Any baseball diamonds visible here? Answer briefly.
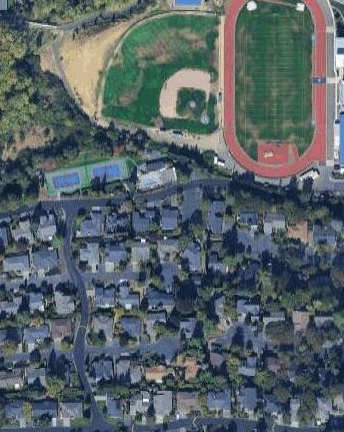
Yes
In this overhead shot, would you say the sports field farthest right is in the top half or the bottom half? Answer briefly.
top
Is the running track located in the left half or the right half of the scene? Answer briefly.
right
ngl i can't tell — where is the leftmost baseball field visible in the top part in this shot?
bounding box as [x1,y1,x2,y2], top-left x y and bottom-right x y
[102,14,220,135]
